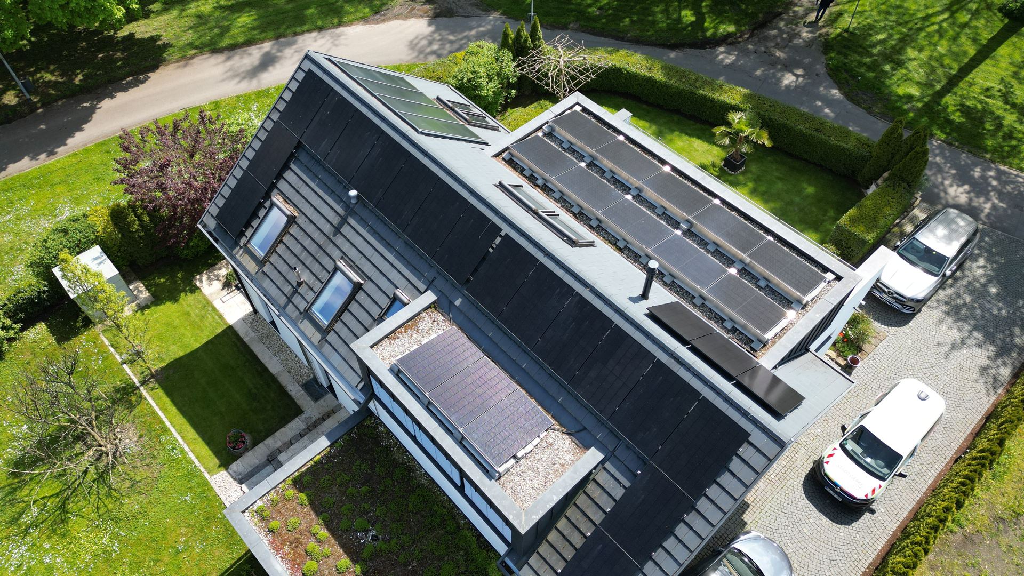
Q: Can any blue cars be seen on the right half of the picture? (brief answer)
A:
No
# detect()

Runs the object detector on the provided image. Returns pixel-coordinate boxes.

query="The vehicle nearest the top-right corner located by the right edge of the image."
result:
[868,210,982,319]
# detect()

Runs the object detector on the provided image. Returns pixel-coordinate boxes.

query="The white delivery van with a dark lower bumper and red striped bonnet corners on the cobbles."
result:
[809,376,945,515]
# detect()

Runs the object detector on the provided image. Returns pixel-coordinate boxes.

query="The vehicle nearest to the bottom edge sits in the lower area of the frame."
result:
[690,525,790,576]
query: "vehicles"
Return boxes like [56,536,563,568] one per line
[690,525,790,576]
[868,210,982,319]
[809,376,945,515]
